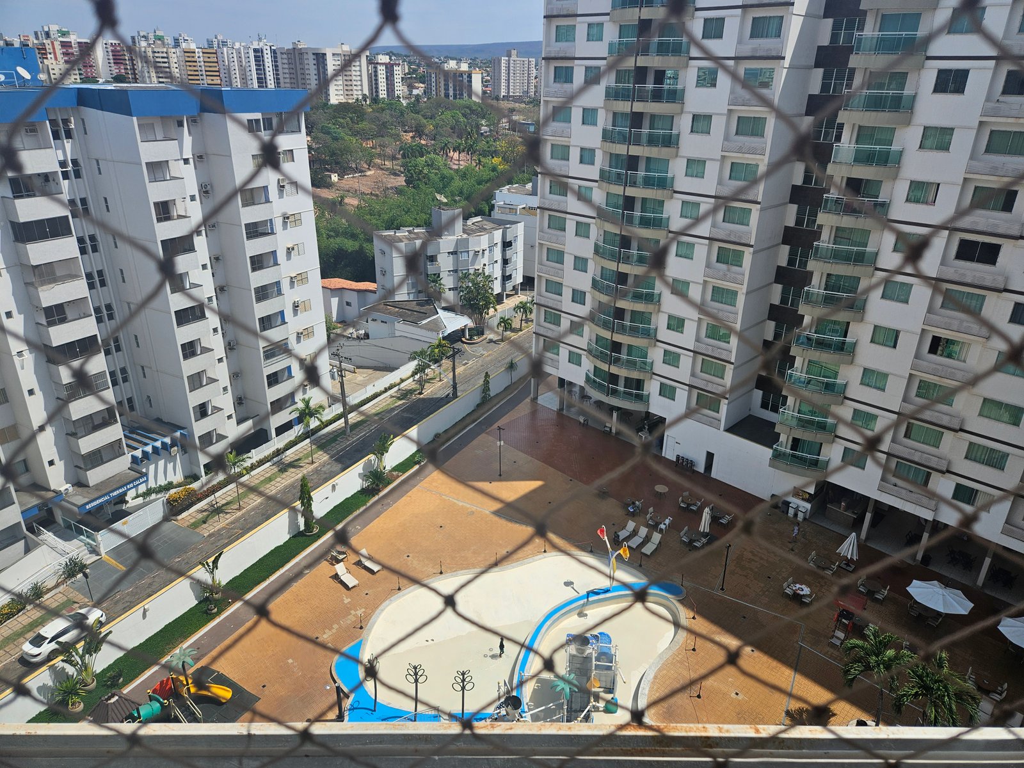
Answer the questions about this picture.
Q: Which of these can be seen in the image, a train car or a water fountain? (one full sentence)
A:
There is a water fountain in the scene.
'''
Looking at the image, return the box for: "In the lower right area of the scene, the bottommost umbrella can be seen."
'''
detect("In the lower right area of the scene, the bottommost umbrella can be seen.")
[989,610,1024,664]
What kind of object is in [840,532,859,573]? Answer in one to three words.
umbrella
